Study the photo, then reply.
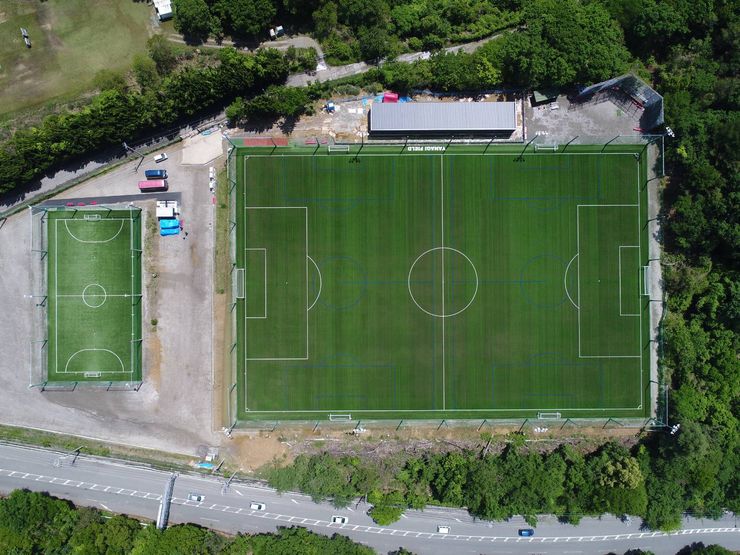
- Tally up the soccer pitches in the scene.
2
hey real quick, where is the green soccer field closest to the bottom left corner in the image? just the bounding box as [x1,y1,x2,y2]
[48,210,142,382]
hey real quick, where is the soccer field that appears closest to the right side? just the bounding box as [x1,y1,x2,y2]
[236,145,650,420]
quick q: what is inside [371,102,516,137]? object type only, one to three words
building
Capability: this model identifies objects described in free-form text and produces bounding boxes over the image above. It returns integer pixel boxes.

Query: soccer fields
[48,210,142,382]
[236,145,650,420]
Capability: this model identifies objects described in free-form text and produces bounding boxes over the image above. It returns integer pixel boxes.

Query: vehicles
[188,493,206,503]
[268,26,278,40]
[139,178,171,190]
[145,168,169,178]
[332,515,348,524]
[322,103,335,111]
[436,525,450,533]
[250,502,266,510]
[517,528,533,537]
[153,152,169,163]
